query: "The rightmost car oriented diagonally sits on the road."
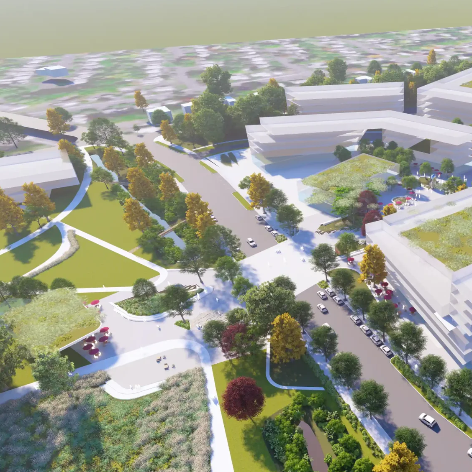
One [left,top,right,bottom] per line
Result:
[421,413,437,430]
